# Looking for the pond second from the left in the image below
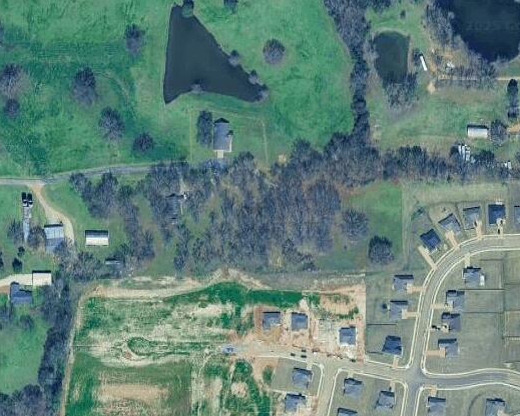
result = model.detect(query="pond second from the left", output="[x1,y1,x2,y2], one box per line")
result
[374,30,409,86]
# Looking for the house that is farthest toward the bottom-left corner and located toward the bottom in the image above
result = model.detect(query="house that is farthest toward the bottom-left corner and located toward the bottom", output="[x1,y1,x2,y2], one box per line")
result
[12,284,32,303]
